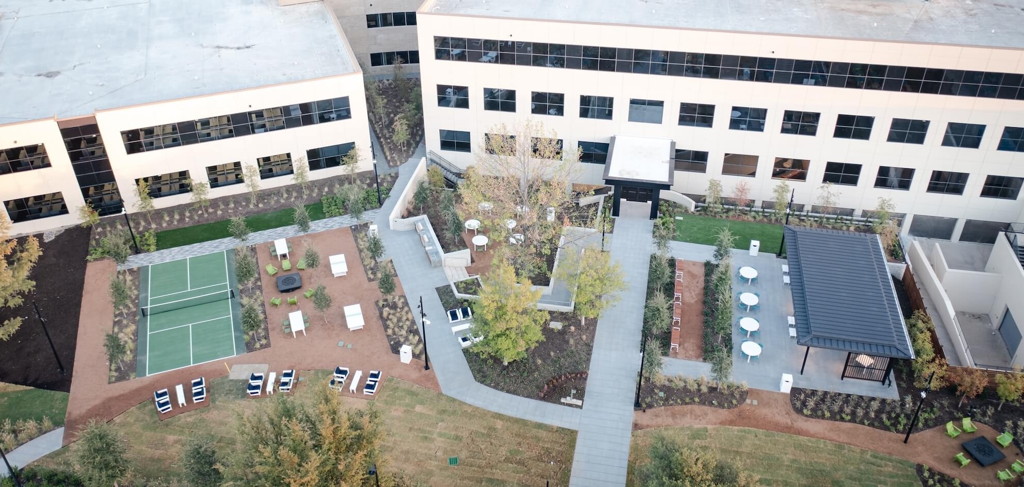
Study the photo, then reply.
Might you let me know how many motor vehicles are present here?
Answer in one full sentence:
The photo contains no motor vehicles.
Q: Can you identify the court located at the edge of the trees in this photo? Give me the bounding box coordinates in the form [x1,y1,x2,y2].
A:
[148,250,234,374]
